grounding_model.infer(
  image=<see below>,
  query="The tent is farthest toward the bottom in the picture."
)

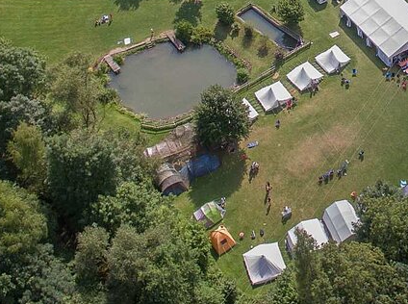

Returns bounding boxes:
[243,241,291,285]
